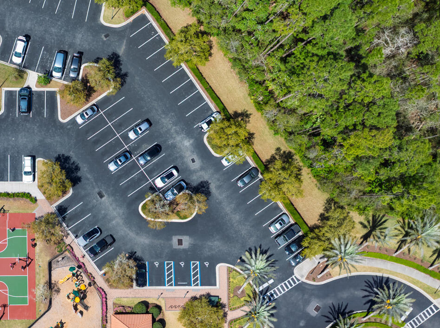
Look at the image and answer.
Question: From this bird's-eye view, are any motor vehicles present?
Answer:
Yes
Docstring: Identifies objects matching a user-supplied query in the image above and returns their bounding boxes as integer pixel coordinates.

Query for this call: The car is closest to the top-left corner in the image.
[13,36,26,61]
